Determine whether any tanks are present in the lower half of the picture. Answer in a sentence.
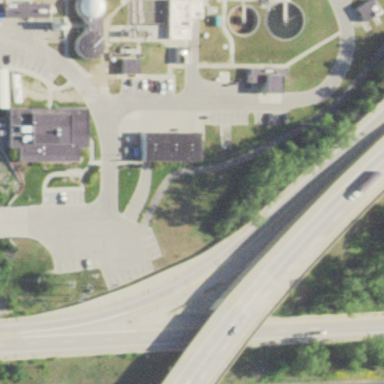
No, I see no tank in the lower half of the picture.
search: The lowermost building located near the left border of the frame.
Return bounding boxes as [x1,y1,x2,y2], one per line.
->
[8,108,90,162]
